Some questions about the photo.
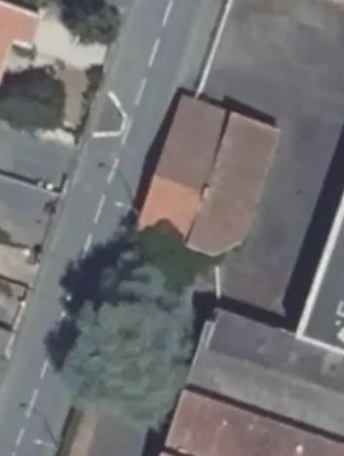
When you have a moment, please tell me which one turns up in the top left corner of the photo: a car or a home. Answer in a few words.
home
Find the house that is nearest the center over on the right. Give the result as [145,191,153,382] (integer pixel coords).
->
[139,96,280,256]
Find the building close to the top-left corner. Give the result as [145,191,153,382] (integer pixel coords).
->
[0,2,40,84]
